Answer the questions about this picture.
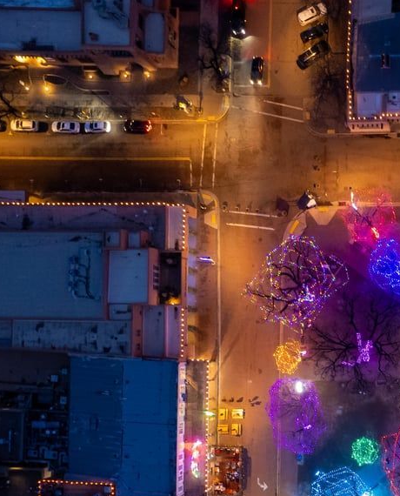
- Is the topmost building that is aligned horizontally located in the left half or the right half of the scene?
left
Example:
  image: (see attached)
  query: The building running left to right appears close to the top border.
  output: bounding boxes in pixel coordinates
[0,0,196,82]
